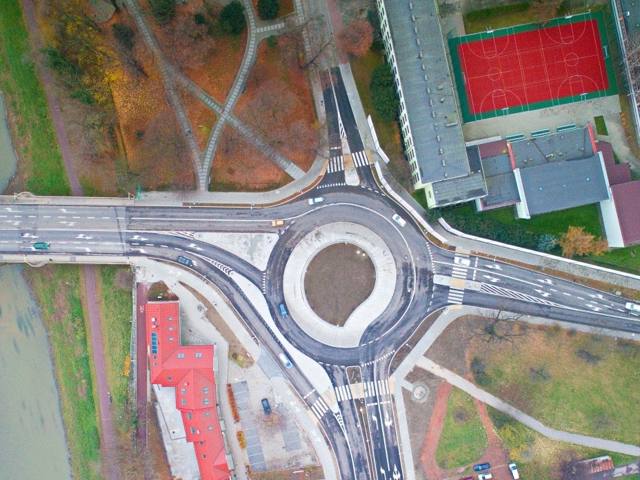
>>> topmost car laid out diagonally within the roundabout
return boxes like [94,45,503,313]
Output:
[393,214,406,229]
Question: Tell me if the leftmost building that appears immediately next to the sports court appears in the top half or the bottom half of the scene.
top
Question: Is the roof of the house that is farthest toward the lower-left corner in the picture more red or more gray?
red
